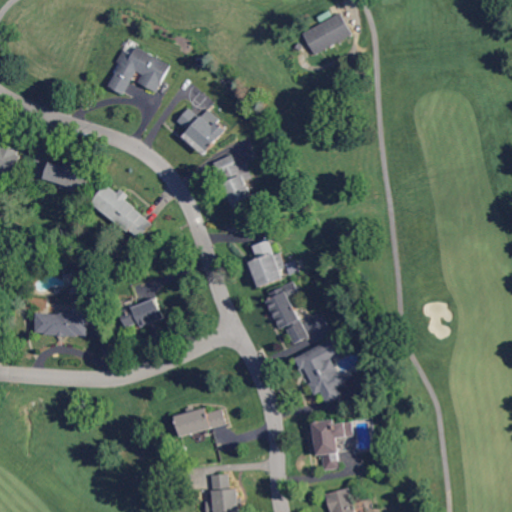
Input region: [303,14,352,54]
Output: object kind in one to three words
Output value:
building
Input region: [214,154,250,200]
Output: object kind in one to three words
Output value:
house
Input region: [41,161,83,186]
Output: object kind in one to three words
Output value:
house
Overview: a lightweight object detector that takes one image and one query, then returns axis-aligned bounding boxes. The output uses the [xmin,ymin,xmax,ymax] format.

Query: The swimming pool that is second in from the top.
[338,356,358,371]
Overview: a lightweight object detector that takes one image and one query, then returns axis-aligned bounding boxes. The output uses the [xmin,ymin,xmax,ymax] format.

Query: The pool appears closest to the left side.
[34,278,64,291]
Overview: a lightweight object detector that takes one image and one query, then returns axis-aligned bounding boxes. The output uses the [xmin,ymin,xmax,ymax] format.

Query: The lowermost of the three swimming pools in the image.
[355,423,370,450]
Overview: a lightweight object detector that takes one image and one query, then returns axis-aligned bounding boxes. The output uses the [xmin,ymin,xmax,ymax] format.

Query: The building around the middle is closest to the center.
[248,238,286,287]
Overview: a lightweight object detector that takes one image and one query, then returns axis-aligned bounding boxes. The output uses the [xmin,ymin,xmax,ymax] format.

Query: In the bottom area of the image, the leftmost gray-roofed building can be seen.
[33,313,88,337]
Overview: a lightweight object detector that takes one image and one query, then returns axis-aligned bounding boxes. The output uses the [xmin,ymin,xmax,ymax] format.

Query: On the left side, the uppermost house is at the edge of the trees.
[108,48,170,94]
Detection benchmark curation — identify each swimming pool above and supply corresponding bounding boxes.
[355,423,370,450]
[34,278,64,291]
[338,356,358,371]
